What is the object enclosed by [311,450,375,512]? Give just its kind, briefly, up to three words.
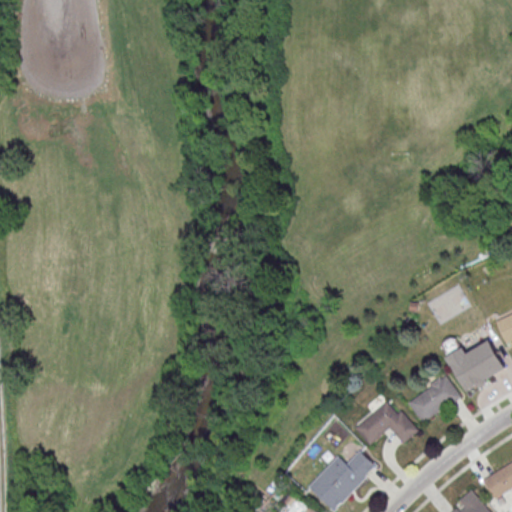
house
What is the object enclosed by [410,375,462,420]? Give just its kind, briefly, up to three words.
house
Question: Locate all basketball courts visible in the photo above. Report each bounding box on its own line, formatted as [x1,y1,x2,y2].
[428,284,472,325]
